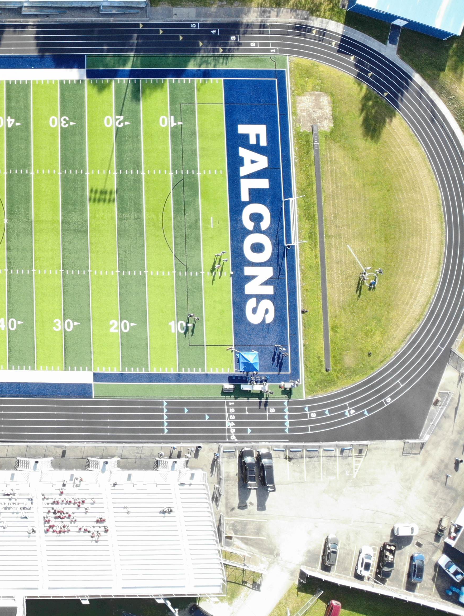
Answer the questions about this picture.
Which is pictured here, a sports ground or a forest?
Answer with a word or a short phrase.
sports ground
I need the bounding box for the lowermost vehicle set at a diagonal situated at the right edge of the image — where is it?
[435,552,464,588]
